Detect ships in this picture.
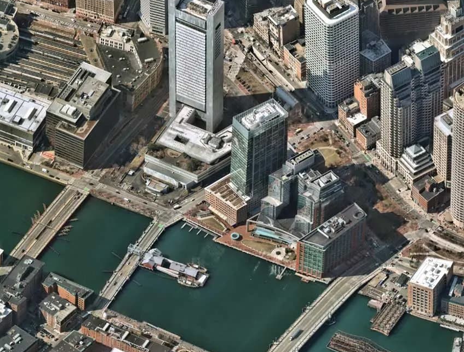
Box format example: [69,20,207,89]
[179,274,200,289]
[188,258,207,272]
[451,337,461,352]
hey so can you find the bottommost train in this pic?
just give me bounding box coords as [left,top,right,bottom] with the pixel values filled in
[0,71,43,84]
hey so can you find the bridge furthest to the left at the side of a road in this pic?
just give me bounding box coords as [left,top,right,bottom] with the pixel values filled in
[5,184,90,264]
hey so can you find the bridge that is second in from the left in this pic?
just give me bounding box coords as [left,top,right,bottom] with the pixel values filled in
[103,219,165,304]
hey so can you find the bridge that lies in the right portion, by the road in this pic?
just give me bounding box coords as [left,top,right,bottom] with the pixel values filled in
[264,261,386,352]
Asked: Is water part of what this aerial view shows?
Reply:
Yes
